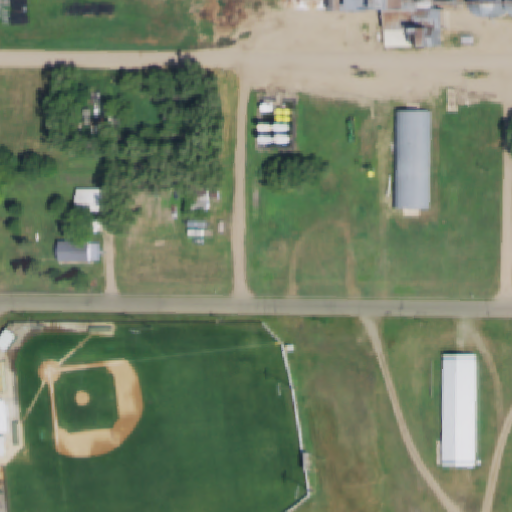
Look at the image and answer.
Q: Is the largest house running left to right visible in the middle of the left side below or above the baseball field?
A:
above it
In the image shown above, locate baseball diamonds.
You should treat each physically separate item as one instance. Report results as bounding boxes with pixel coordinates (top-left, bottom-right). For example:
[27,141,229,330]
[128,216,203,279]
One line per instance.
[6,322,306,512]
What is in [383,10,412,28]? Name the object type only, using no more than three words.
barn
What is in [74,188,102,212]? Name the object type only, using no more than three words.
house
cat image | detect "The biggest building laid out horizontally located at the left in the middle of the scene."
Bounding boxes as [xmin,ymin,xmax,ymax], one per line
[56,242,104,264]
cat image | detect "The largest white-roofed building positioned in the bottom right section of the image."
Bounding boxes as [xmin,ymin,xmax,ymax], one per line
[442,354,475,466]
